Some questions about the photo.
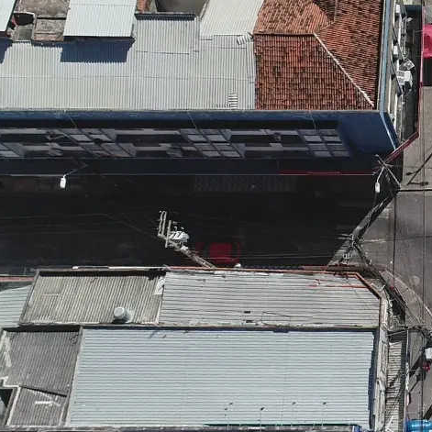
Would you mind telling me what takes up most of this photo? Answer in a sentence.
The scene is dominated by buildings.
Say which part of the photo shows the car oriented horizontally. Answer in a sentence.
The car oriented horizontally is in the center part of the image.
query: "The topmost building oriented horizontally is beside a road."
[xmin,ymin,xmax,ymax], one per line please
[0,0,423,173]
